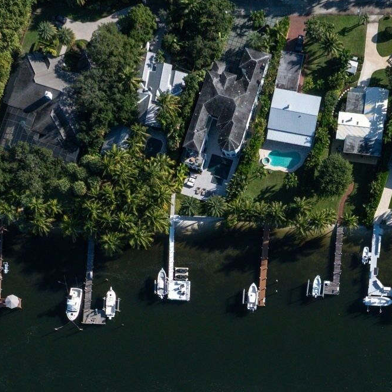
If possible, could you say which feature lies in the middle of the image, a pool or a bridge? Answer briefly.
pool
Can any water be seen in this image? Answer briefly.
Yes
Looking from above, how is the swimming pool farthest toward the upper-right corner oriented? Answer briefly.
horizontally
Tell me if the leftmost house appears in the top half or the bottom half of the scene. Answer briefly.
top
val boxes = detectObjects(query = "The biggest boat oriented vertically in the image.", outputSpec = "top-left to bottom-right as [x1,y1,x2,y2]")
[68,287,85,321]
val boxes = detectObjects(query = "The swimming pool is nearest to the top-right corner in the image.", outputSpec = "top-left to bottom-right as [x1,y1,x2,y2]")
[261,149,302,169]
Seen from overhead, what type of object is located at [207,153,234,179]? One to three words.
swimming pool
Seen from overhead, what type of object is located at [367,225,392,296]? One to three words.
pier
